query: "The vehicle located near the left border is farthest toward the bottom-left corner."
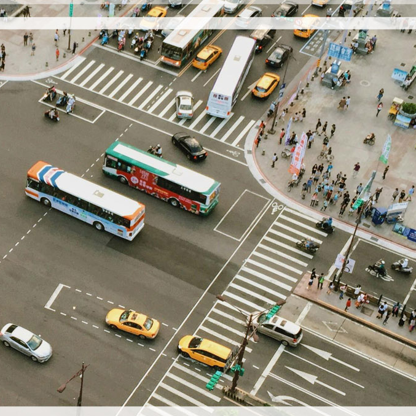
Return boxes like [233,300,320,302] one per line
[0,325,54,364]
